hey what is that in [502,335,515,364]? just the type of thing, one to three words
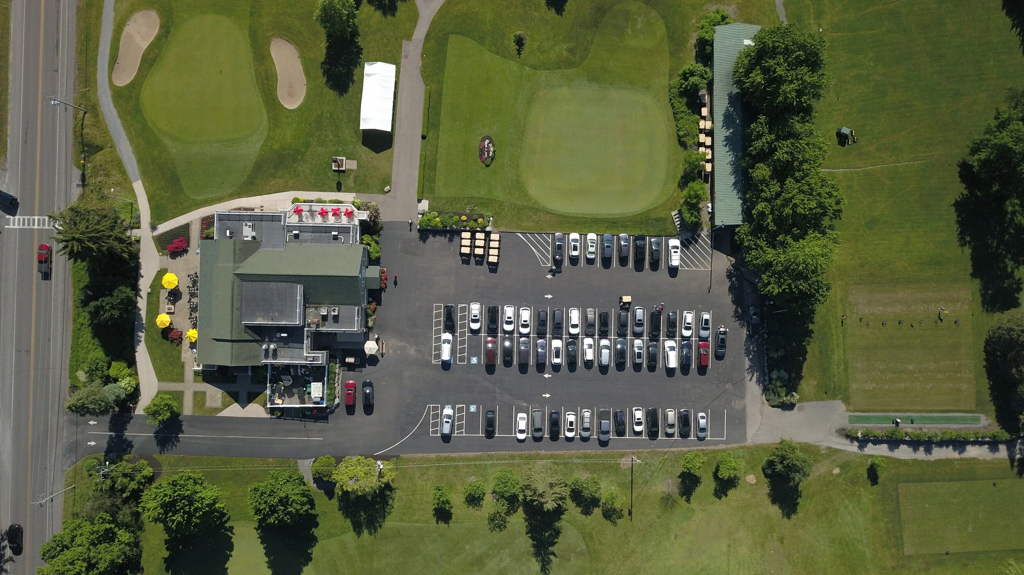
vehicle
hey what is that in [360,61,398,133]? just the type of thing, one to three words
tent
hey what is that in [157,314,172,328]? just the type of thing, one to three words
umbrella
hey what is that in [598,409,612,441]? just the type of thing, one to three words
vehicle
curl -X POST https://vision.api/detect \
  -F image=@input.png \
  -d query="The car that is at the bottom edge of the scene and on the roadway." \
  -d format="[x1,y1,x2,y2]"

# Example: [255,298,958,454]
[8,523,24,552]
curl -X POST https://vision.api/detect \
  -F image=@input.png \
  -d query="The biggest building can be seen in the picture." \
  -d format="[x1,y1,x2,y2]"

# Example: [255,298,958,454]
[192,203,381,374]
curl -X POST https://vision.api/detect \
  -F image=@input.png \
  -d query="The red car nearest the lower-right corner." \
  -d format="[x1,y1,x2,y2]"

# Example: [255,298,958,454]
[697,342,711,366]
